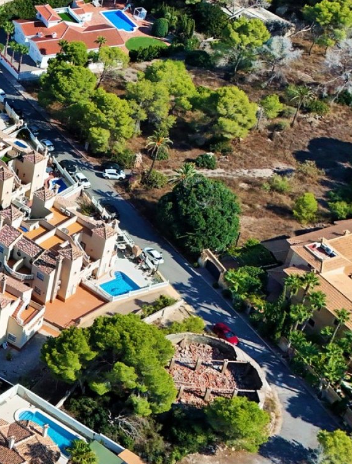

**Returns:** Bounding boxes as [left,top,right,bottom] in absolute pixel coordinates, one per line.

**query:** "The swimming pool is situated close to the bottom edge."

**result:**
[16,407,76,458]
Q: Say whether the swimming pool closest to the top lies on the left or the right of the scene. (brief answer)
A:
left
